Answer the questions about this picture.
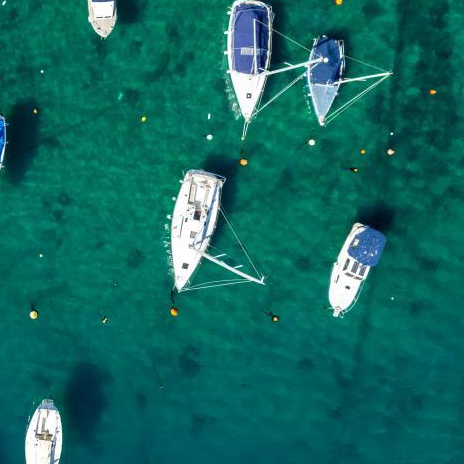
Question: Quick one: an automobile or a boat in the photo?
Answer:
boat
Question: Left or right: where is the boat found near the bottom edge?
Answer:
left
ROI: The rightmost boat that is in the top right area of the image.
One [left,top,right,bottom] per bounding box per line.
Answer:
[303,34,394,127]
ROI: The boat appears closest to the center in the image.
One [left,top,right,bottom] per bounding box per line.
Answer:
[165,169,266,305]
